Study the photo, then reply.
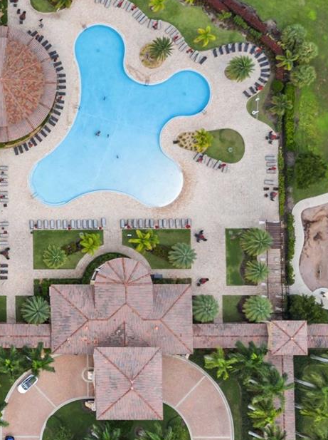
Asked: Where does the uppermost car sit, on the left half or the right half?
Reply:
left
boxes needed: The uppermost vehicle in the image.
[18,372,38,394]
